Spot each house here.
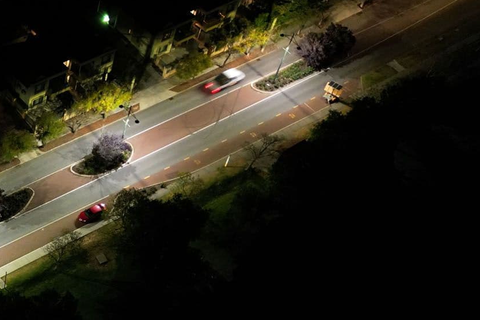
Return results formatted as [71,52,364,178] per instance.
[115,0,246,58]
[0,0,133,110]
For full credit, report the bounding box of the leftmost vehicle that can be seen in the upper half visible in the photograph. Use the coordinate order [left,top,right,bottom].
[208,71,242,92]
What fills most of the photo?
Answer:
trees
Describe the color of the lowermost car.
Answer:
red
